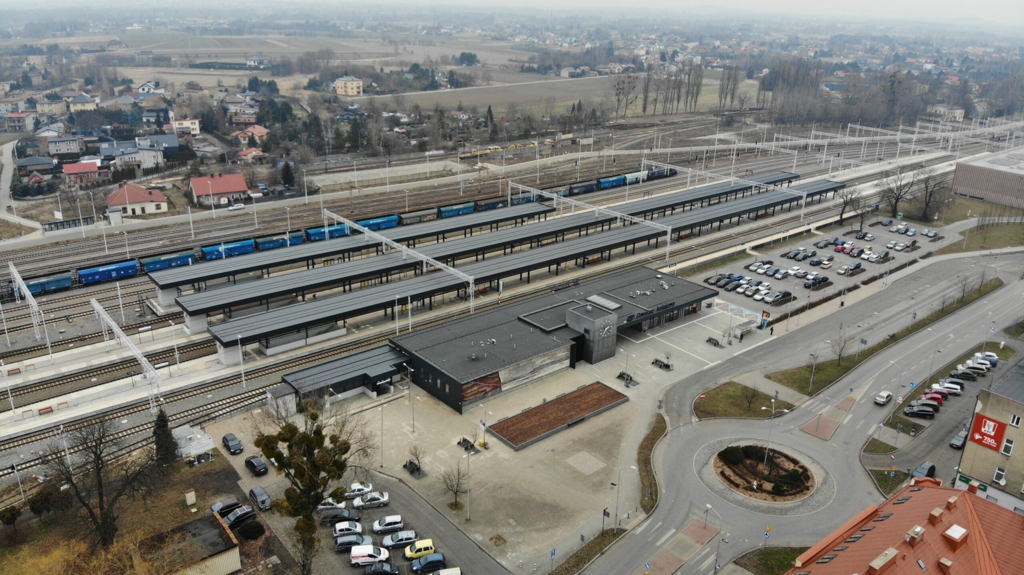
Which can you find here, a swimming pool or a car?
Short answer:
car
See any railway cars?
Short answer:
Yes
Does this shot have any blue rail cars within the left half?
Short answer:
Yes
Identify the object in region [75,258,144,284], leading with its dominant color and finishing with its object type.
blue rail car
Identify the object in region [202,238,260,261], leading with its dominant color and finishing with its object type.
blue rail car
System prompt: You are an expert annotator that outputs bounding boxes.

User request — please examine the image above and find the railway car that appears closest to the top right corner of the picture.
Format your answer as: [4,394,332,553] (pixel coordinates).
[646,168,674,180]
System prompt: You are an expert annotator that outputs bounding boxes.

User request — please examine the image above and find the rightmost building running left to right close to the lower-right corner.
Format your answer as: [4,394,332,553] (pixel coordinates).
[787,473,1024,575]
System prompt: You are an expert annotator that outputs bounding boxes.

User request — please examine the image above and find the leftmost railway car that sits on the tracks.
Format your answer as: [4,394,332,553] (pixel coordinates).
[1,269,77,298]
